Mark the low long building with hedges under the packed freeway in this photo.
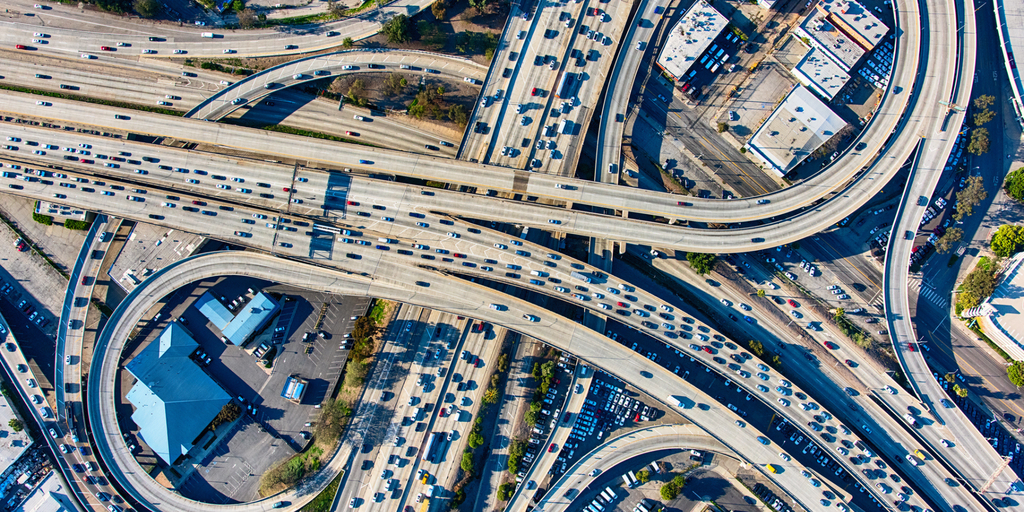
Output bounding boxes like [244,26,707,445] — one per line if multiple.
[36,200,97,222]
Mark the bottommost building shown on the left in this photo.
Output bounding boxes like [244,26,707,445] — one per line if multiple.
[13,467,87,512]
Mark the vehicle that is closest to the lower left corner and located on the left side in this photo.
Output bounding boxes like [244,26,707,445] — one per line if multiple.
[13,471,31,485]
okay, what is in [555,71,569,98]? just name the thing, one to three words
vehicle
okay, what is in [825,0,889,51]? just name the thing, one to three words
building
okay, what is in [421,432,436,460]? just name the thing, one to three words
vehicle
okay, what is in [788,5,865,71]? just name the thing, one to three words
building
